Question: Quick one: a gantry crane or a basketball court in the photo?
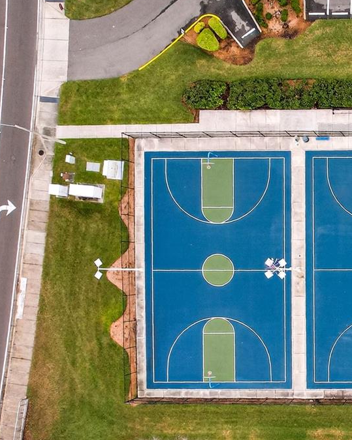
basketball court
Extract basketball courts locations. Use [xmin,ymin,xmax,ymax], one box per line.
[144,151,293,390]
[305,150,352,389]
